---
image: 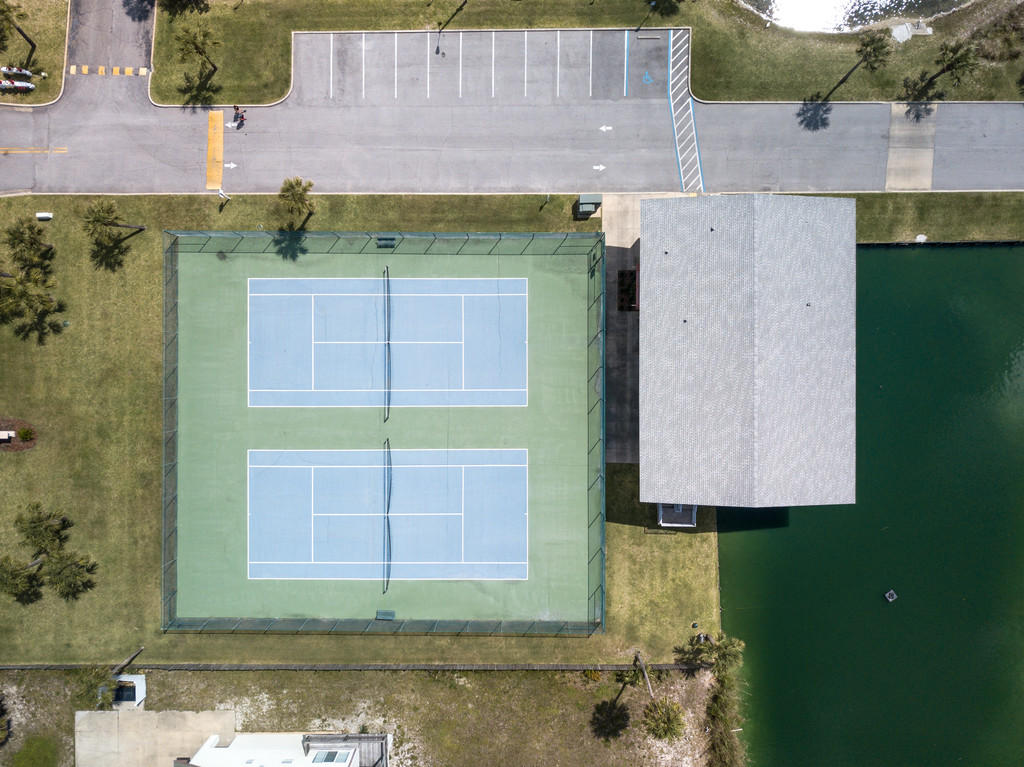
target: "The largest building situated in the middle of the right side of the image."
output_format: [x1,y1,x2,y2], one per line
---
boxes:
[639,194,857,526]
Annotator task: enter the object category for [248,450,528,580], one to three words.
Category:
tennis court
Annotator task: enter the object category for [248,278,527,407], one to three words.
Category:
tennis court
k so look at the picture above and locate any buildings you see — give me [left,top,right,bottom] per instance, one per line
[182,736,362,767]
[639,194,857,526]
